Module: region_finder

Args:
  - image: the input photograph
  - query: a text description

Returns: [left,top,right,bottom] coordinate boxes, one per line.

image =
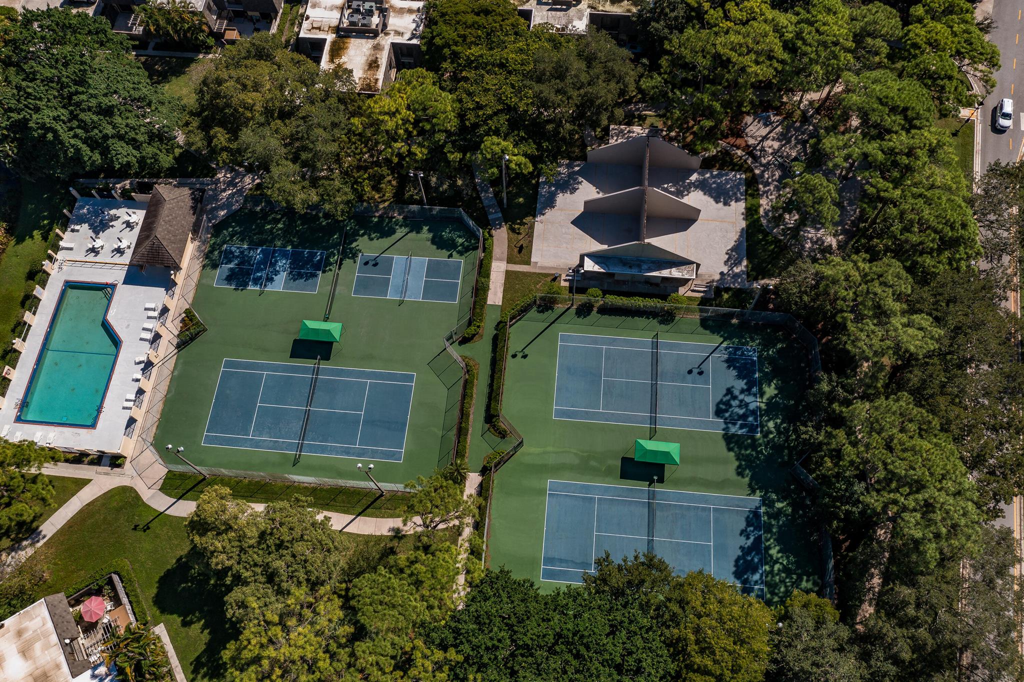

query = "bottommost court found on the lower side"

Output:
[542,480,764,595]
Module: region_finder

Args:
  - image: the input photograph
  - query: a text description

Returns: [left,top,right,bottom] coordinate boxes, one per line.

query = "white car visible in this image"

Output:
[997,98,1018,131]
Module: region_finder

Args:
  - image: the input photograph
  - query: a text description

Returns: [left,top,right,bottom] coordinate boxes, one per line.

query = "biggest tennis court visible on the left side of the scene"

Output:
[202,359,415,462]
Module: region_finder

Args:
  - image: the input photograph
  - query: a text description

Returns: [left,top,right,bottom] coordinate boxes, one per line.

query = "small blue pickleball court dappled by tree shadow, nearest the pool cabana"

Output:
[214,245,326,293]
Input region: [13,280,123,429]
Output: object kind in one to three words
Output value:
swimming pool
